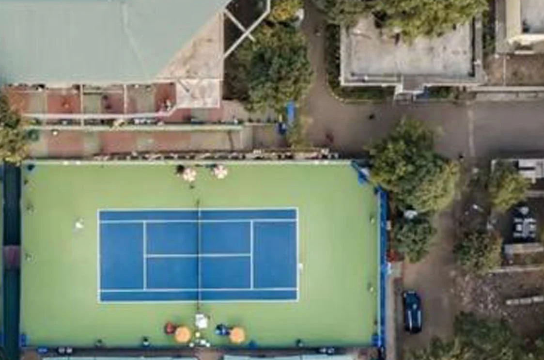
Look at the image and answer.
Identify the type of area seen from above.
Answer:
sports ground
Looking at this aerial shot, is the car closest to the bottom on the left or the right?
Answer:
right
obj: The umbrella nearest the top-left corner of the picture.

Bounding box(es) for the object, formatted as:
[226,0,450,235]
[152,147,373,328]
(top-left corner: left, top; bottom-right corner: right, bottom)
[182,167,196,180]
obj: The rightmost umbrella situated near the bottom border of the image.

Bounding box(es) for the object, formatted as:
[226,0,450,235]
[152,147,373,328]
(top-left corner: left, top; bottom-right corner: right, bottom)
[231,328,245,342]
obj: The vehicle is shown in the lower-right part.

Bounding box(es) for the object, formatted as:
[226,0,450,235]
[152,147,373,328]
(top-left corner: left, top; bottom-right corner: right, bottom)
[402,291,423,332]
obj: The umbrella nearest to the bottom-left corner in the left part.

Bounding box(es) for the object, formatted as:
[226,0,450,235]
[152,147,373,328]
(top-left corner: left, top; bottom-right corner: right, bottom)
[175,328,190,342]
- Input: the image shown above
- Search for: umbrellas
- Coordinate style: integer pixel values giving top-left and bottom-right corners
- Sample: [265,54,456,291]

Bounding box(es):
[231,328,245,342]
[175,328,190,342]
[214,166,227,178]
[182,167,196,180]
